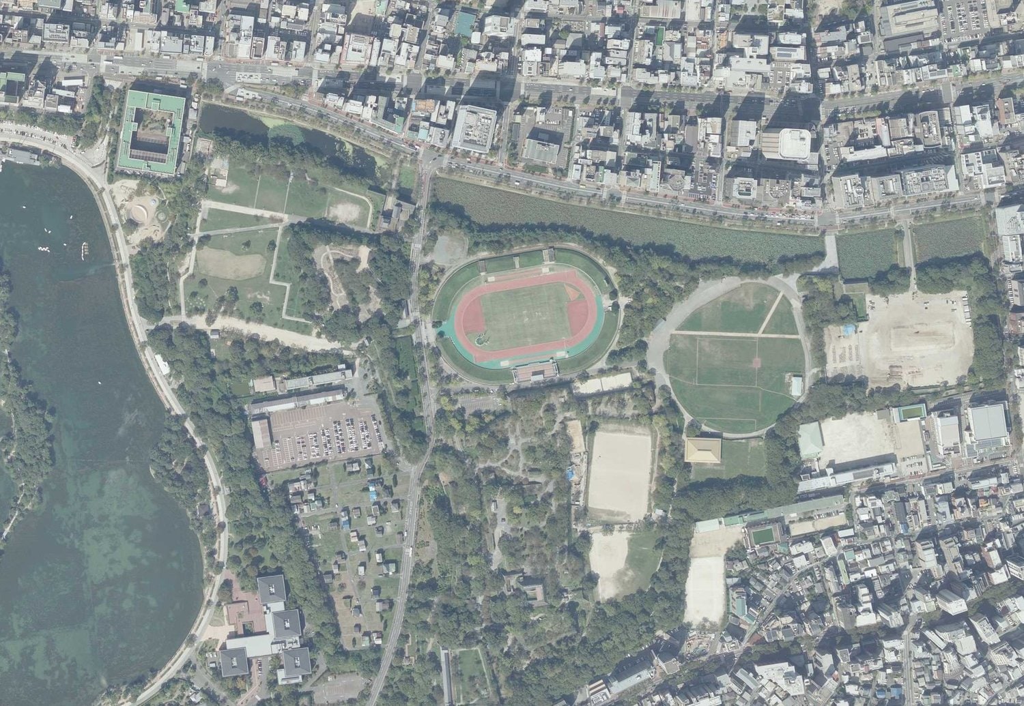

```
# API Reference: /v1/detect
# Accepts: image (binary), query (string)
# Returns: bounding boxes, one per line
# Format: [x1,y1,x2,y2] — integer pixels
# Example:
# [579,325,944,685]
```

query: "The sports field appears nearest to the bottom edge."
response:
[590,525,663,600]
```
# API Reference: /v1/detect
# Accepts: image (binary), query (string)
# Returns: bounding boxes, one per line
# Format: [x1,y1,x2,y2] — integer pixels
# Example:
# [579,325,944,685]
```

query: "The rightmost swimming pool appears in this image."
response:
[892,403,926,423]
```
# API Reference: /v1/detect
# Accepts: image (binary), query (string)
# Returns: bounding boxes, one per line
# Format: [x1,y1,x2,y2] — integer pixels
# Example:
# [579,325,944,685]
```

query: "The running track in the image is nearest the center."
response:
[430,248,622,384]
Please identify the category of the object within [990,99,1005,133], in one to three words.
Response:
building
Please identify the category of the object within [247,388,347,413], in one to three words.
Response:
shed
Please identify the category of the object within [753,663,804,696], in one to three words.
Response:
building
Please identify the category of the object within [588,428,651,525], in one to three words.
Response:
sports field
